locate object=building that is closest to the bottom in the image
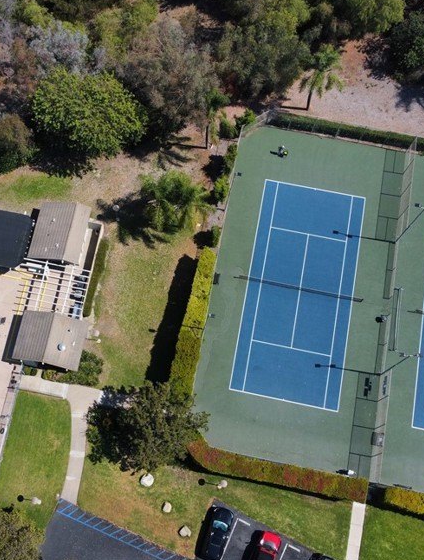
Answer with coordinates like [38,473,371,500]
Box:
[12,310,89,371]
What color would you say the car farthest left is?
black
